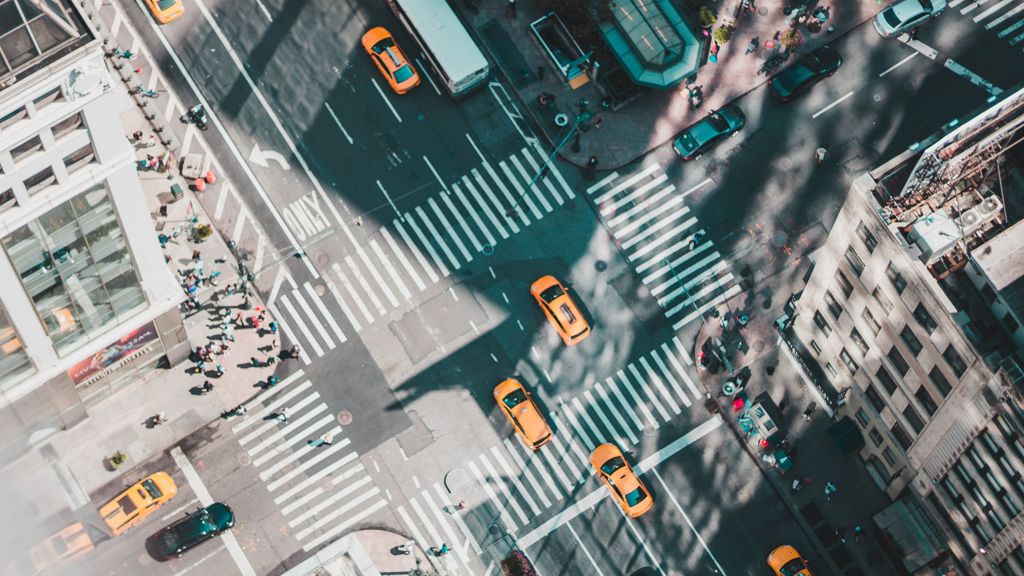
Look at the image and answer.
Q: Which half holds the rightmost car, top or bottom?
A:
top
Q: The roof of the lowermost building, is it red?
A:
No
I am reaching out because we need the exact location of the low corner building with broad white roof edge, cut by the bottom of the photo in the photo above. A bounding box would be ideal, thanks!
[280,532,380,576]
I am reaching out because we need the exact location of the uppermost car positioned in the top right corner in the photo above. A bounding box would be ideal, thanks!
[875,0,944,42]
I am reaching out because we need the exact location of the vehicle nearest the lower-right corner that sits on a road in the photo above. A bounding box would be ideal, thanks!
[769,547,809,576]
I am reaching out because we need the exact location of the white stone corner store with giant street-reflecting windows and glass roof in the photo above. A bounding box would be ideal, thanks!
[0,0,194,464]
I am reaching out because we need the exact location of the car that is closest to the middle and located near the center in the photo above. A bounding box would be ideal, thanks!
[533,278,589,344]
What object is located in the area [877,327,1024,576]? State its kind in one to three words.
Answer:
building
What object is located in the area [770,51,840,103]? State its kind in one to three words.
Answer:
car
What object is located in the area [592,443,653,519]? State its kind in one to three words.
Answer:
car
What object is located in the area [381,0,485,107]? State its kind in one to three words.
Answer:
bus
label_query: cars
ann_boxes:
[97,472,180,536]
[147,503,234,562]
[769,547,809,576]
[592,443,653,519]
[770,51,840,103]
[365,29,418,96]
[533,278,589,344]
[673,108,744,160]
[875,0,944,42]
[496,382,552,450]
